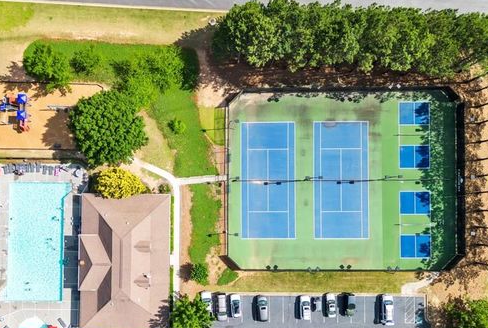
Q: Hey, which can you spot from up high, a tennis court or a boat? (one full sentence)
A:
This aerial view contains a tennis court.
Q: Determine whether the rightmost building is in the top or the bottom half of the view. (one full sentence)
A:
You can find the rightmost building in the bottom half.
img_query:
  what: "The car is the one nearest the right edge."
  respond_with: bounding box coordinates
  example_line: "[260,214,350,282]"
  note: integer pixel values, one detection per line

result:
[381,296,394,324]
